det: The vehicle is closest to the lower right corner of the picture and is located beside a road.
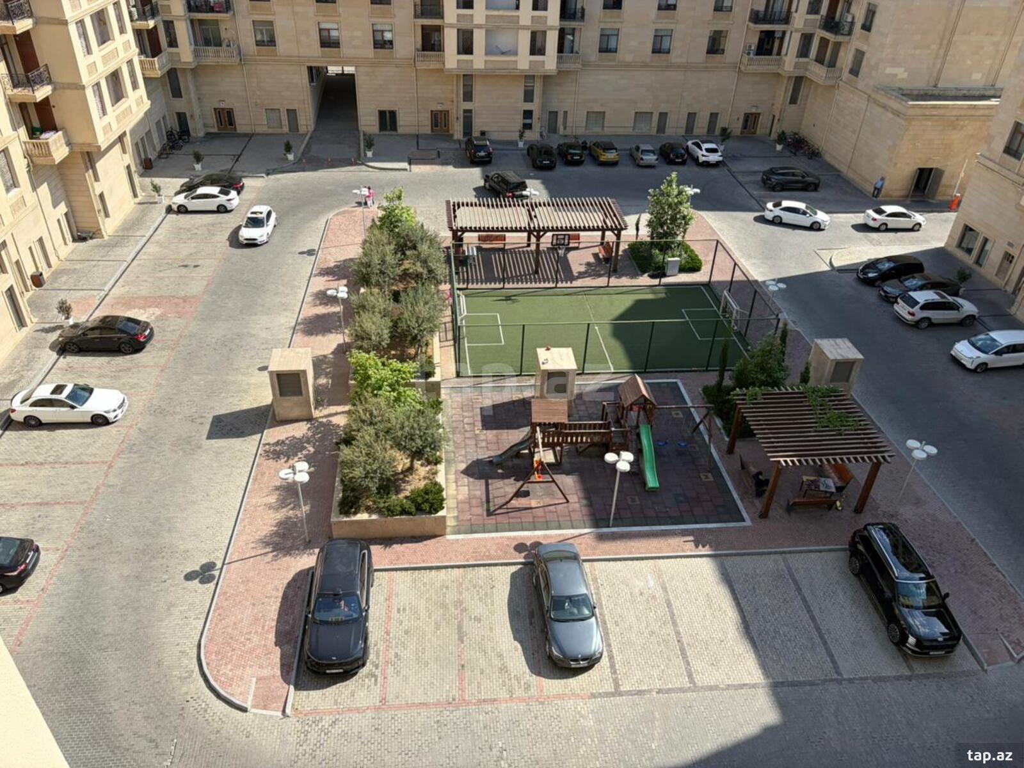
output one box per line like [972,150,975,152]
[849,519,968,655]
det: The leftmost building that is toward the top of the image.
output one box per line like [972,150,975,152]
[0,0,175,357]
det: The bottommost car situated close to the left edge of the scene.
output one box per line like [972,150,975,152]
[0,526,45,584]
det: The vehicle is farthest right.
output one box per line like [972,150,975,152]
[954,325,1024,367]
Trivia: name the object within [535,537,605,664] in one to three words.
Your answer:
car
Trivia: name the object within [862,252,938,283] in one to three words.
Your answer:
car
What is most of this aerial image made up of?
paved ground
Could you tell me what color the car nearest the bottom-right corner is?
black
